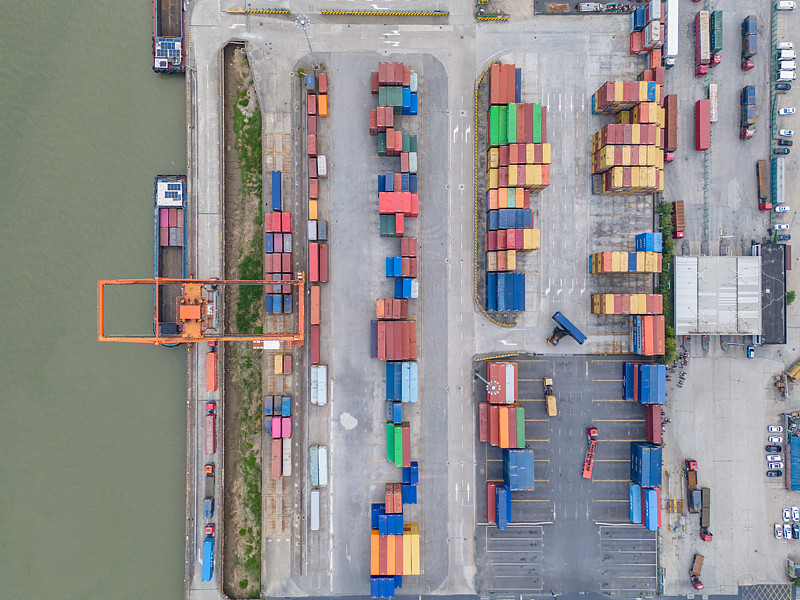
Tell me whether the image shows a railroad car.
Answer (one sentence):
No, I find no railroad car anywhere in the image.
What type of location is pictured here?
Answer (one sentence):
This image shows a port.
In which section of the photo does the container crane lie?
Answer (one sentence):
The container crane is in the left part of the image.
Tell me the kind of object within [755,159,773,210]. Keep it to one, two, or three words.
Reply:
vehicle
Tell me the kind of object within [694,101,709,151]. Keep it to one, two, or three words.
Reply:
trailer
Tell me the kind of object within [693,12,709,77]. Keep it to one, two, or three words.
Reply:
vehicle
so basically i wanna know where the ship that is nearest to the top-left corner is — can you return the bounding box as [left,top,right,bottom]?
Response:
[151,0,186,74]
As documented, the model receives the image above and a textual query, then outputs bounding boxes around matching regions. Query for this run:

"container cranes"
[97,262,305,352]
